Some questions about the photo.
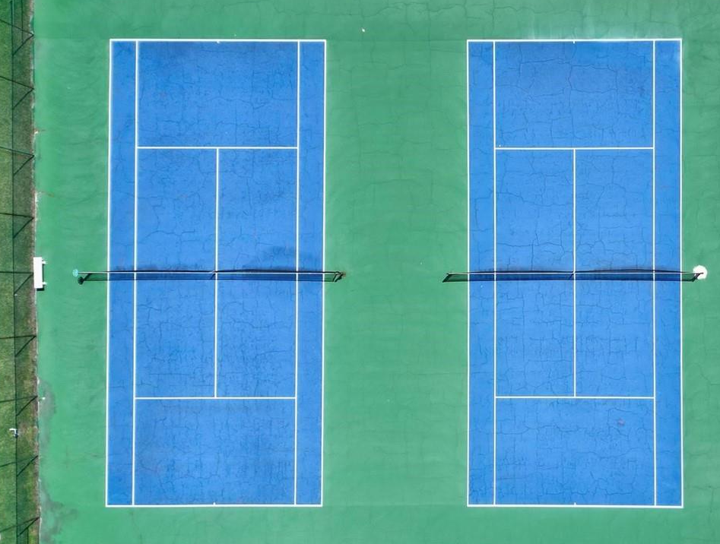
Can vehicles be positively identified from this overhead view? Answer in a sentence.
No, the scene contains no vehicle.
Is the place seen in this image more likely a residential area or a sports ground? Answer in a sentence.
This image shows a sports ground.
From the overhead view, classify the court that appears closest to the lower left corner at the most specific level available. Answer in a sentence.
Specifically, the court that appears closest to the lower left corner is a tennis court.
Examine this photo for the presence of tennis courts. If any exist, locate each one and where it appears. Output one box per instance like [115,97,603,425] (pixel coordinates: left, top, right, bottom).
[467,38,683,508]
[106,39,326,507]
